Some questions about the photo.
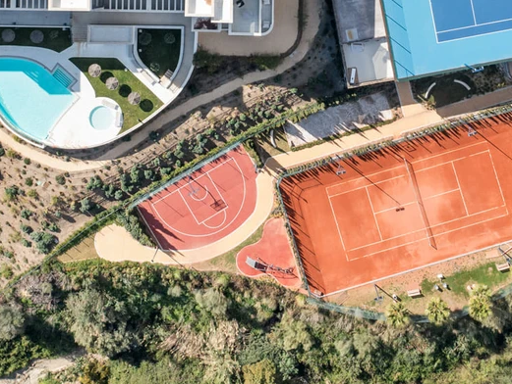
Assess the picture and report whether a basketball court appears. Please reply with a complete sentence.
Yes, the photo shows a basketball court.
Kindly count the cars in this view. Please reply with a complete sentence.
There are no cars in the image.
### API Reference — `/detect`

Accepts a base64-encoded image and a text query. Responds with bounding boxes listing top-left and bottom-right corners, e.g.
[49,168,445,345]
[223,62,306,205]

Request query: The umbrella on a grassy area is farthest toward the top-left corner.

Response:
[2,29,16,41]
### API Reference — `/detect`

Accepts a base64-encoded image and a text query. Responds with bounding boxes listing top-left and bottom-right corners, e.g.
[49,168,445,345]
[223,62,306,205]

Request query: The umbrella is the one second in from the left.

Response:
[31,30,44,43]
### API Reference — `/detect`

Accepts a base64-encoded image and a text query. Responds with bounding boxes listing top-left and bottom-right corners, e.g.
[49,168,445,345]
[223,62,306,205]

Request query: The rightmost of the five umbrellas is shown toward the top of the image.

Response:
[128,92,142,105]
